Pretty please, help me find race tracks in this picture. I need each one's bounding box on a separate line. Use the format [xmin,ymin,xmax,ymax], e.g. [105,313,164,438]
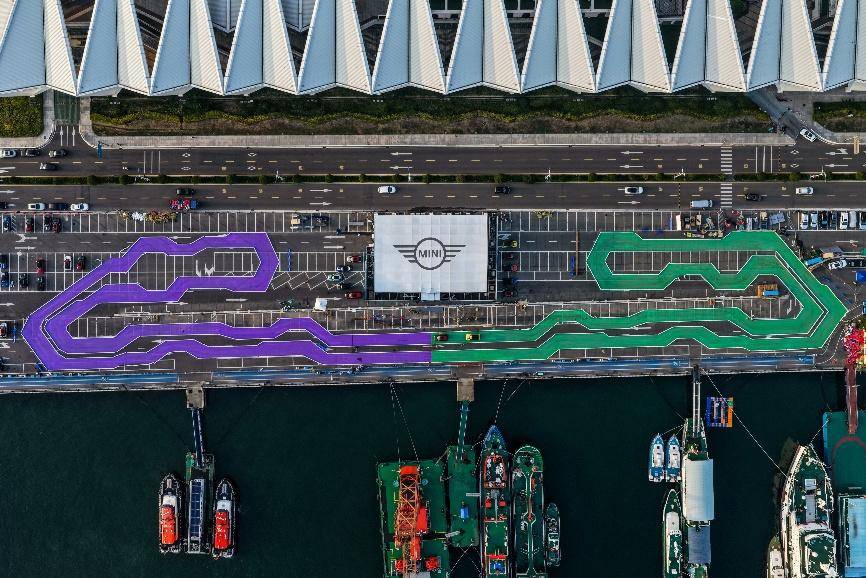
[21,231,847,370]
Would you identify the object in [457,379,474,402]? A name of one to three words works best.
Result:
pier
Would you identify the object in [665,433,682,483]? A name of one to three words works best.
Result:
boat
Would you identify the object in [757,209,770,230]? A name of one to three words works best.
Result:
vehicle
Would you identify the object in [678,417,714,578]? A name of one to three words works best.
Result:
ship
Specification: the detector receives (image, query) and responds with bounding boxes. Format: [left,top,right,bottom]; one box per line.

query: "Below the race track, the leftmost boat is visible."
[158,474,184,554]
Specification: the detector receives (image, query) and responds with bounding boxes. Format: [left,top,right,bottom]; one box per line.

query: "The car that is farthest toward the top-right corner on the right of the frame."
[798,127,818,143]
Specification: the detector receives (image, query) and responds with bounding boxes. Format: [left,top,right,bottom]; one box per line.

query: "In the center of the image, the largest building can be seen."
[365,212,497,300]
